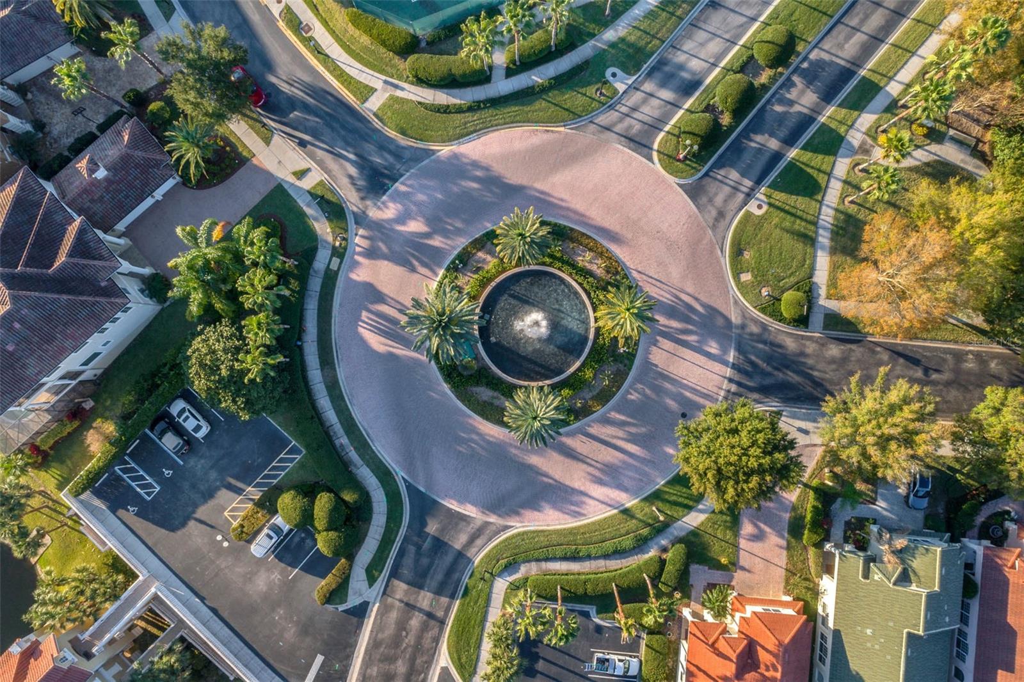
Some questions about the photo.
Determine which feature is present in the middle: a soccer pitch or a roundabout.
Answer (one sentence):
There is a roundabout in the middle.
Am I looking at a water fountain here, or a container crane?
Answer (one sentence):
Of the two, only a water fountain appears.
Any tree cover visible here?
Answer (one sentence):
Yes, some tree cover is visible.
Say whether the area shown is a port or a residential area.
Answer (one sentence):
This looks like a residential area.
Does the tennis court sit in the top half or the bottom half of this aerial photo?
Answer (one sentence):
Seen from above, the tennis court lies in the top half of the view.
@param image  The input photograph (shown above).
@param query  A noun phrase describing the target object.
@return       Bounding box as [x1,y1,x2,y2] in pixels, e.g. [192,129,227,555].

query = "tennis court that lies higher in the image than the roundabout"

[366,0,512,34]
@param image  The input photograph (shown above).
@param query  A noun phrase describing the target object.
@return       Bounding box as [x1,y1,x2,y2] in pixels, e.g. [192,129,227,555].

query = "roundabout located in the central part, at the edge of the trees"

[339,129,737,528]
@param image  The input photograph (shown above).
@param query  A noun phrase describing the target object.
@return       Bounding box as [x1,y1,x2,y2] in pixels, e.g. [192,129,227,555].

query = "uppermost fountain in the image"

[479,266,596,383]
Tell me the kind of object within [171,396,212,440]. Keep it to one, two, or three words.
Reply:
car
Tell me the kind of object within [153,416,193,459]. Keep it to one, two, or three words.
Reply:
car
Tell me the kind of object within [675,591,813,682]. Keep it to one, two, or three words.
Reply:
house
